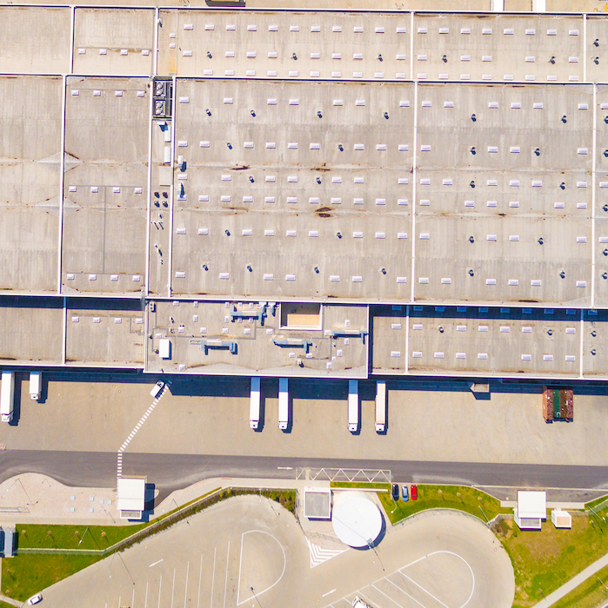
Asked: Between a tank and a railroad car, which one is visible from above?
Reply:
tank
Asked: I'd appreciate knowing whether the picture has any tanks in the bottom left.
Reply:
No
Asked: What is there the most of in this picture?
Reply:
buildings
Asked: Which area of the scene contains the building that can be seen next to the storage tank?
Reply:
bottom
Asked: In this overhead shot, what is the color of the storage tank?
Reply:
white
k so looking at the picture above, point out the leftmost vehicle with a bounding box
[1,372,15,423]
